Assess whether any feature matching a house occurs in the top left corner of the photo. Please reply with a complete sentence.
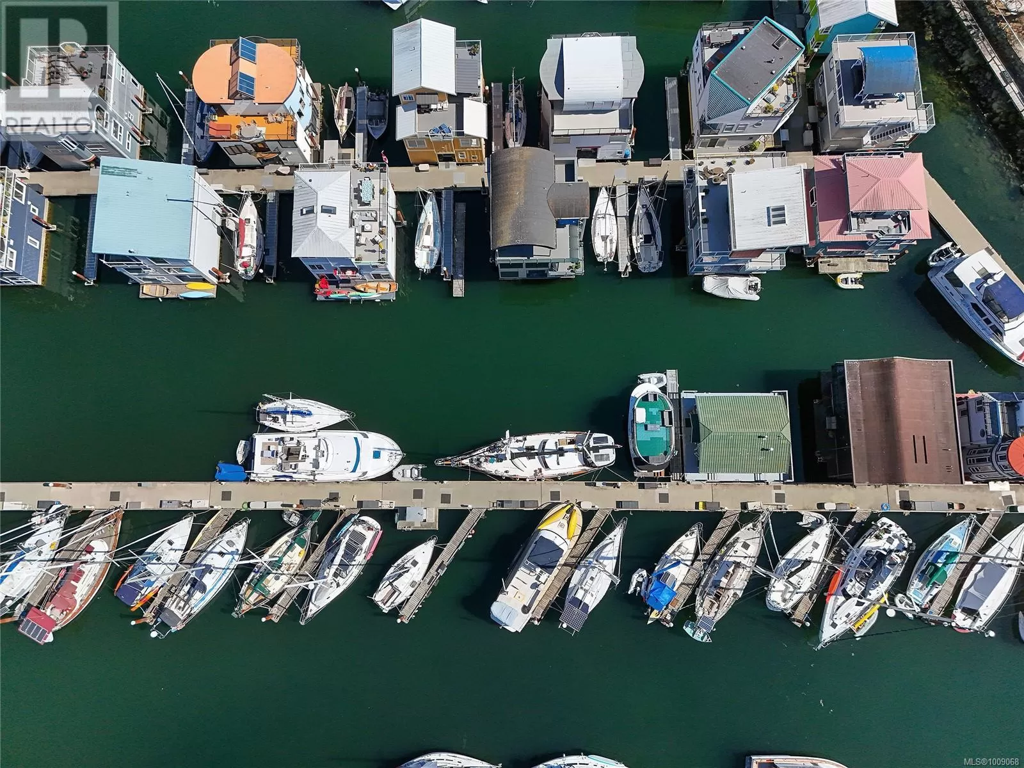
Yes, there is a house in the top left corner of the photo.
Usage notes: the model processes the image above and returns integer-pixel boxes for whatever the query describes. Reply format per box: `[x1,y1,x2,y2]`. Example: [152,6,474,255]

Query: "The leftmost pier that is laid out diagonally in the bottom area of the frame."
[7,510,111,619]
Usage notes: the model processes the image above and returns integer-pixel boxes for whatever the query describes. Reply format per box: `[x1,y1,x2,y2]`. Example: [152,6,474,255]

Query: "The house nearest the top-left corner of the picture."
[0,39,150,164]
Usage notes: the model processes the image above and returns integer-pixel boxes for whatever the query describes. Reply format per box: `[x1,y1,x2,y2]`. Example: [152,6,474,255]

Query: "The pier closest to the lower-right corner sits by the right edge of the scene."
[927,510,1003,621]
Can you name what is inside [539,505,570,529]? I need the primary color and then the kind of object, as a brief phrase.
yellow boat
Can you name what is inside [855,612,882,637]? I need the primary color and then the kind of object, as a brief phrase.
white boat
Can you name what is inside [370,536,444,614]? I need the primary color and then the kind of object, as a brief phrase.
white boat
